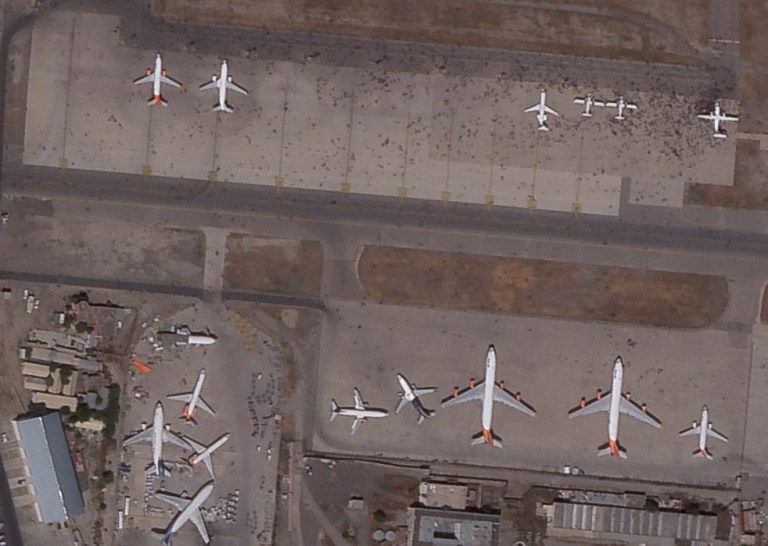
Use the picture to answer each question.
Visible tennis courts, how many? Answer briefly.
zero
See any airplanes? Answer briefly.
Yes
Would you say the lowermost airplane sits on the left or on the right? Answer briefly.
left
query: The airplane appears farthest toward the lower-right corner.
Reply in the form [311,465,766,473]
[680,406,728,458]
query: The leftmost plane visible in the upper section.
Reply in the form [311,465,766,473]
[134,54,182,105]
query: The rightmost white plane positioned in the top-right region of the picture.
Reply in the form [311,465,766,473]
[698,103,737,136]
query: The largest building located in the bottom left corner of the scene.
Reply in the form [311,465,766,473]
[14,411,85,523]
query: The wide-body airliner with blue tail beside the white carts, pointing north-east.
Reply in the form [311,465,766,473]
[158,484,214,546]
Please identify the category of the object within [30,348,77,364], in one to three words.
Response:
building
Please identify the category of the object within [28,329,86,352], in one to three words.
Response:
building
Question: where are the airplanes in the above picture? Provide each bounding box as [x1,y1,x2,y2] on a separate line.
[399,374,438,424]
[200,60,247,112]
[167,370,217,430]
[158,484,214,546]
[569,356,664,457]
[524,89,559,130]
[680,406,728,458]
[698,103,737,136]
[574,94,604,116]
[606,98,636,119]
[134,54,182,105]
[334,389,389,436]
[442,346,537,448]
[185,433,230,478]
[124,401,194,475]
[157,328,217,344]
